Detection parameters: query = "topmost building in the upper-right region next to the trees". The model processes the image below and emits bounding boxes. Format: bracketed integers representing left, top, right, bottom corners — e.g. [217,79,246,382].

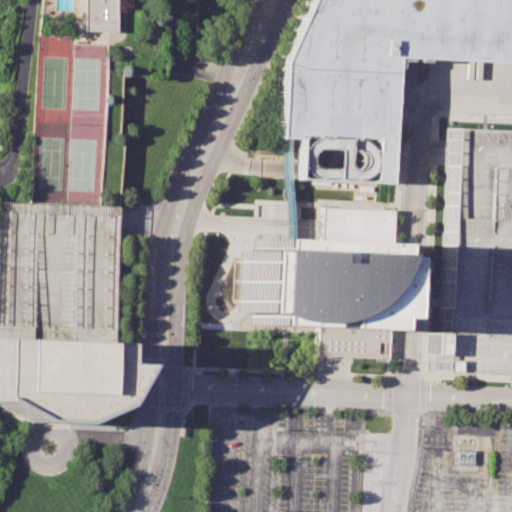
[283,0,512,184]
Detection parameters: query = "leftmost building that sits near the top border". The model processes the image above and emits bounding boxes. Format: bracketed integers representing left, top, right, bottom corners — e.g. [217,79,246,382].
[88,0,122,32]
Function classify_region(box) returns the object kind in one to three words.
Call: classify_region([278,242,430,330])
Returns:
building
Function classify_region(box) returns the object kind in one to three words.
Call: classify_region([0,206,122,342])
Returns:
building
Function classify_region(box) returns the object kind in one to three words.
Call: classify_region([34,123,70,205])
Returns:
tennis court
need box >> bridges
[284,140,298,240]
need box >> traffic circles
[24,428,74,470]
